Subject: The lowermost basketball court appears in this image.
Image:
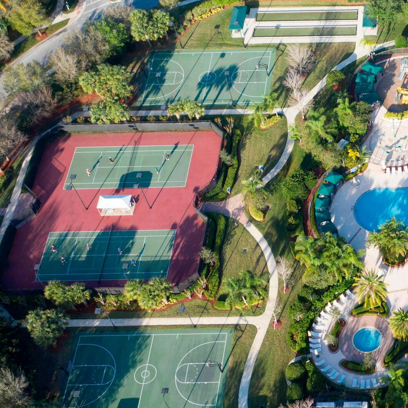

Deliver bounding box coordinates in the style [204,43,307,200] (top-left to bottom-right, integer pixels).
[55,328,233,408]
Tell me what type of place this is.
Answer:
sports ground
